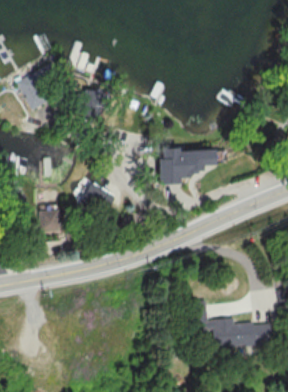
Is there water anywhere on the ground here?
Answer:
Yes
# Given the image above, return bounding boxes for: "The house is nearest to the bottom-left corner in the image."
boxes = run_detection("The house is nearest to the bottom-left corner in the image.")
[40,210,60,234]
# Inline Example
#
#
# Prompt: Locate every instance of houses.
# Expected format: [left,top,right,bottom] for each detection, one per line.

[40,210,60,234]
[17,76,46,110]
[160,146,218,184]
[72,178,116,207]
[82,88,104,116]
[192,298,270,346]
